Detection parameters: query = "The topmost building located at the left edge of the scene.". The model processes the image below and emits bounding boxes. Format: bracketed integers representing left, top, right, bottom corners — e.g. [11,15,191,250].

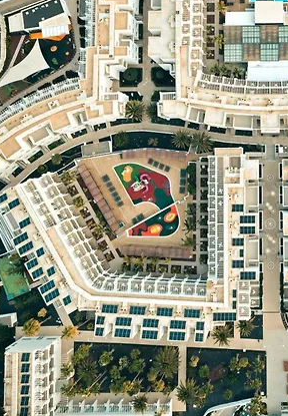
[8,0,77,38]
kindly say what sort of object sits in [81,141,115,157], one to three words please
building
